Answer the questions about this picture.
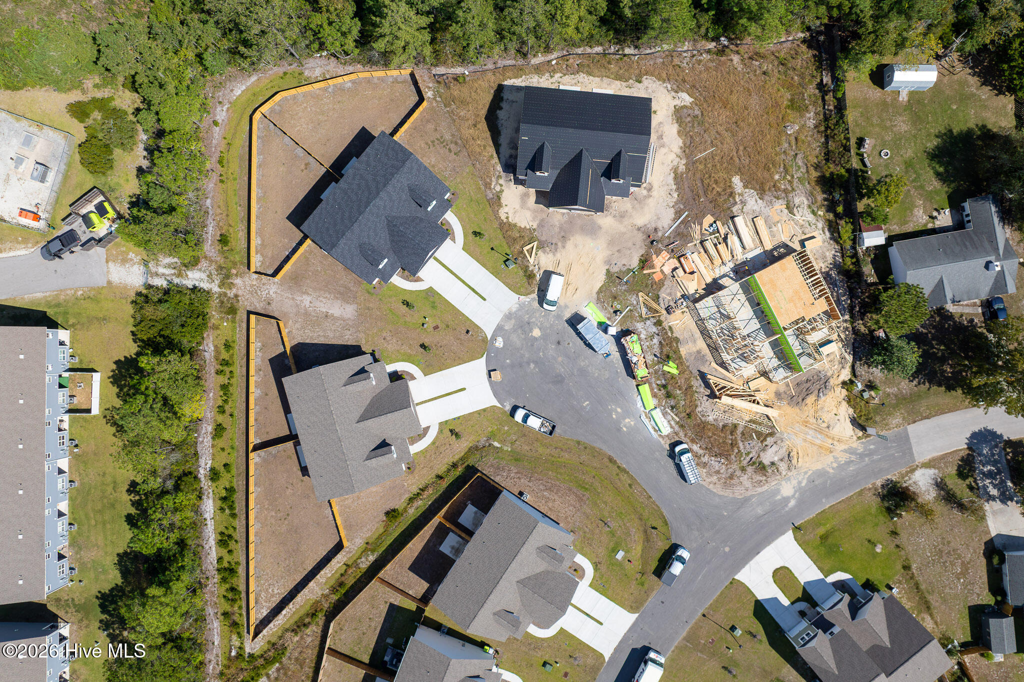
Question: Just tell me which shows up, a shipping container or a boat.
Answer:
shipping container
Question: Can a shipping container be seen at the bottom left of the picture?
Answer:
No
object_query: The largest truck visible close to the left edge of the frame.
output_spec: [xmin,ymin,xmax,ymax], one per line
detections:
[43,230,84,260]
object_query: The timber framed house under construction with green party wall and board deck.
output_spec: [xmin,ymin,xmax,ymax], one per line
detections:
[692,247,842,384]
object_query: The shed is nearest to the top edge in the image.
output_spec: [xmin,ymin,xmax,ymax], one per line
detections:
[886,60,947,99]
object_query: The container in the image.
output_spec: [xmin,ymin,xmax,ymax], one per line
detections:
[620,334,652,381]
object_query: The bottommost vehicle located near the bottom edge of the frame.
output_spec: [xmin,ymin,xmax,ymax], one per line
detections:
[634,649,664,682]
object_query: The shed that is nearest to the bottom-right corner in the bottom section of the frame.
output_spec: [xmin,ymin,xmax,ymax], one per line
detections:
[983,618,1018,661]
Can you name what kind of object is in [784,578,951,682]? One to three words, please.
house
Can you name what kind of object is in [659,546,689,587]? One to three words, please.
truck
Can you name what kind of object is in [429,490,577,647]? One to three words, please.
house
